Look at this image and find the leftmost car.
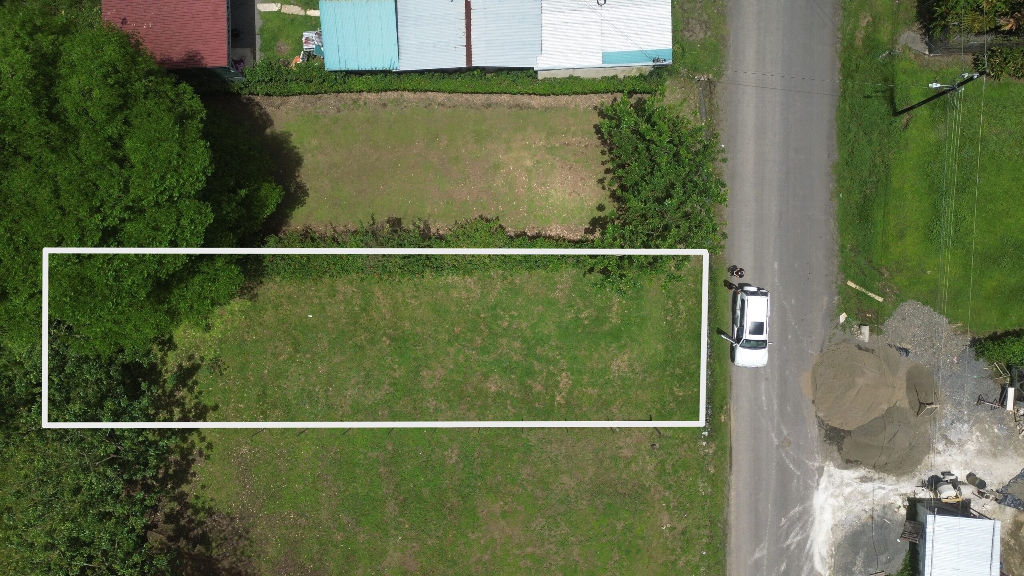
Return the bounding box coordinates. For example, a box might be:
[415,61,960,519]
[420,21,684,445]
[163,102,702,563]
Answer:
[720,289,774,368]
